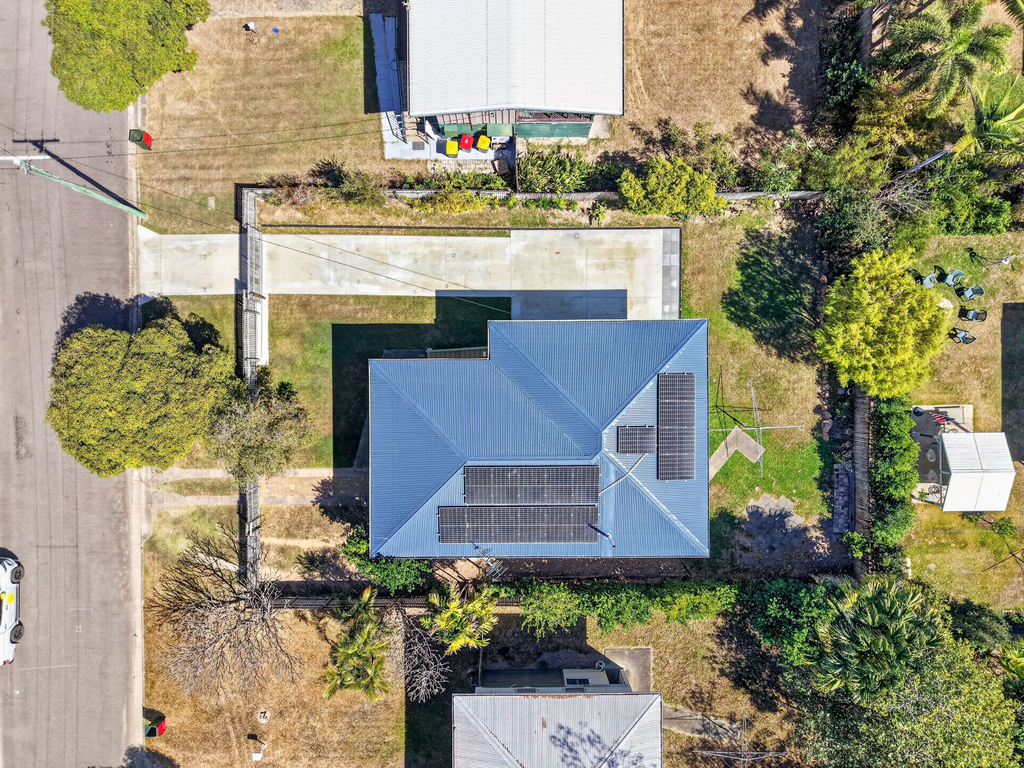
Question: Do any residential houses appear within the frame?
Yes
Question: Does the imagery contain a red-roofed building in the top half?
No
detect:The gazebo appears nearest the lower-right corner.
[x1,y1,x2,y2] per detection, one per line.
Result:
[916,433,1016,511]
